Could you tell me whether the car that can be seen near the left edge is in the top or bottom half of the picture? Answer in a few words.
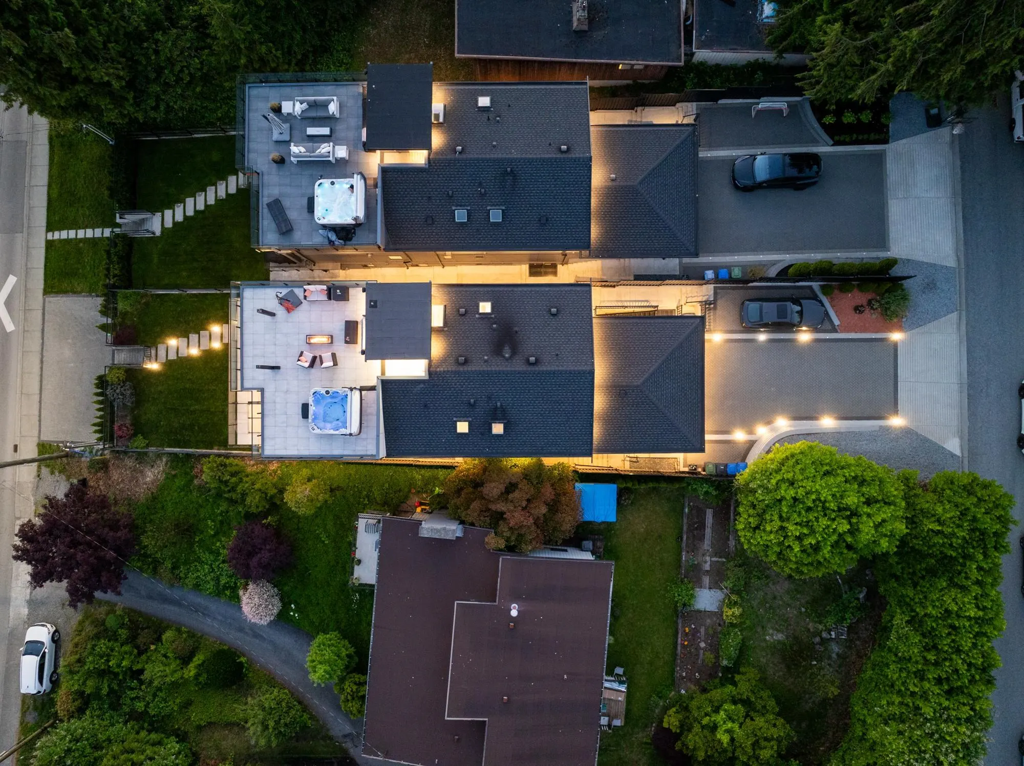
bottom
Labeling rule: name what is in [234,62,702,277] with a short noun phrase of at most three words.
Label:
house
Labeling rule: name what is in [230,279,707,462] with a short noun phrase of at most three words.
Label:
house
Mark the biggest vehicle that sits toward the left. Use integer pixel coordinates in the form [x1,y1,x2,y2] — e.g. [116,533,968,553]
[16,623,60,700]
